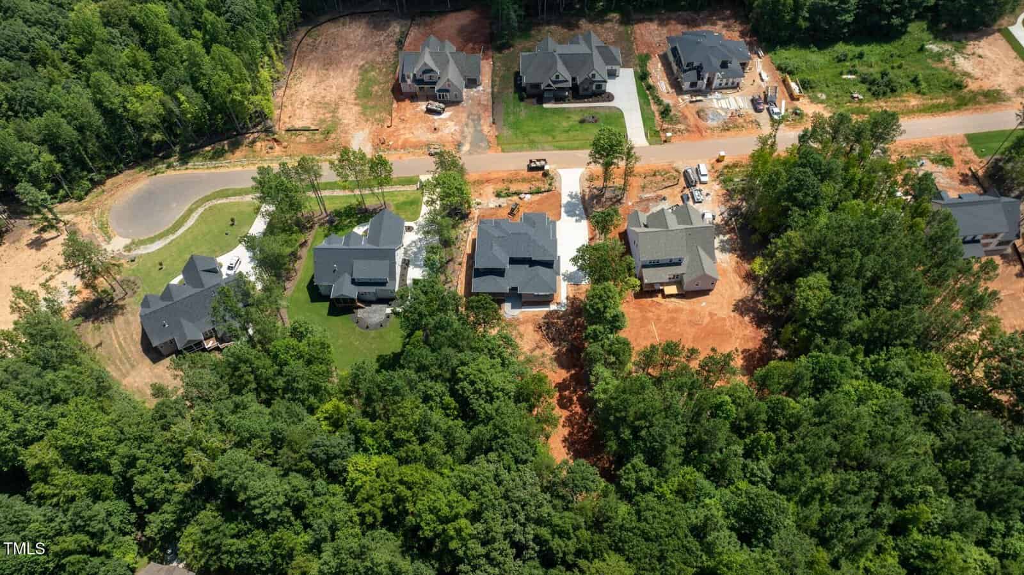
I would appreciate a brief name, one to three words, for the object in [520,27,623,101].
house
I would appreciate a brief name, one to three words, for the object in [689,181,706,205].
vehicle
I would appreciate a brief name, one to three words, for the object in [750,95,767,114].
vehicle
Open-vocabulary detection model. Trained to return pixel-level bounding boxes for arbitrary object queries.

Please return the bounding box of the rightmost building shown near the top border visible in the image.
[664,28,753,93]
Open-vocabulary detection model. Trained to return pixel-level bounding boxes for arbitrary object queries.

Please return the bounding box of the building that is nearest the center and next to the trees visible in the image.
[471,213,562,299]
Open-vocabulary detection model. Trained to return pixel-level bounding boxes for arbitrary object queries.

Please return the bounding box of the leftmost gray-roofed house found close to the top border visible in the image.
[400,28,483,102]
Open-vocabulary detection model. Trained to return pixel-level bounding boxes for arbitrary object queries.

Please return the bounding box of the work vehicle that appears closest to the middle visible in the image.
[505,204,521,221]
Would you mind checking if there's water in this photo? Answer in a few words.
No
